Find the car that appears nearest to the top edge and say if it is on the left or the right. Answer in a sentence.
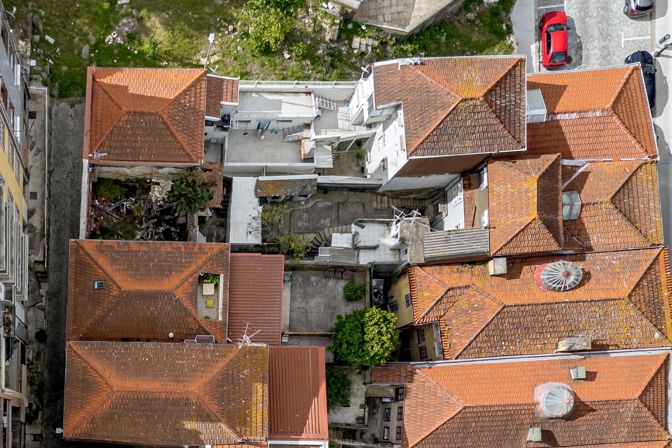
The car that appears nearest to the top edge appears in the right half of the scene.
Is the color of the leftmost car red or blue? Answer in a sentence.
The leftmost car looks red in the image.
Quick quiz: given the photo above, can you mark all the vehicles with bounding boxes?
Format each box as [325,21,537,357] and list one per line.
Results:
[626,56,659,115]
[622,0,656,23]
[538,16,569,70]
